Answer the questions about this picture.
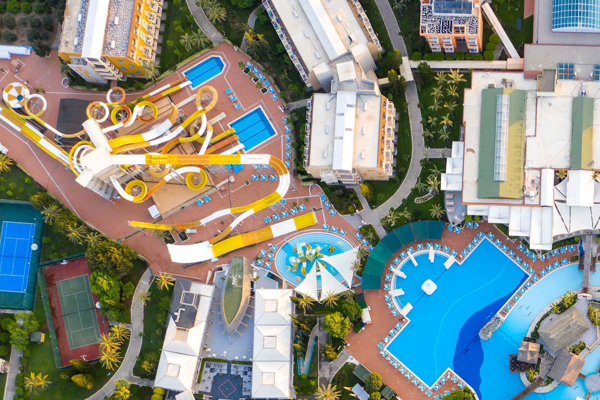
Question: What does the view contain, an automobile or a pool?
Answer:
pool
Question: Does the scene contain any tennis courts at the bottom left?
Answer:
Yes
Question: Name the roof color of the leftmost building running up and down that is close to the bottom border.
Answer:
white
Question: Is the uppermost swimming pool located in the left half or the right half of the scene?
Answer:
left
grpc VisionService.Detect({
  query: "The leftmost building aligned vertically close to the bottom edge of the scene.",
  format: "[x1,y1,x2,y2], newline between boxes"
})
[154,279,221,390]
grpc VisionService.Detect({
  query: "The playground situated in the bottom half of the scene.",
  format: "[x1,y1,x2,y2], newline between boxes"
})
[287,242,324,276]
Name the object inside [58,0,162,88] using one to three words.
building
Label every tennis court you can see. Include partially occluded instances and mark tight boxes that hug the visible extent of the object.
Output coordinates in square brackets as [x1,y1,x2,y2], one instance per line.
[35,254,106,367]
[0,201,43,310]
